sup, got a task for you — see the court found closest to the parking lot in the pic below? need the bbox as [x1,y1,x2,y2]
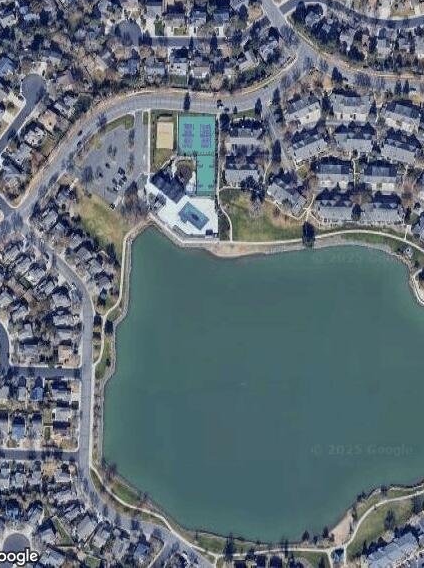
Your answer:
[156,122,173,148]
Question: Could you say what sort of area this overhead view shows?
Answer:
residential area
